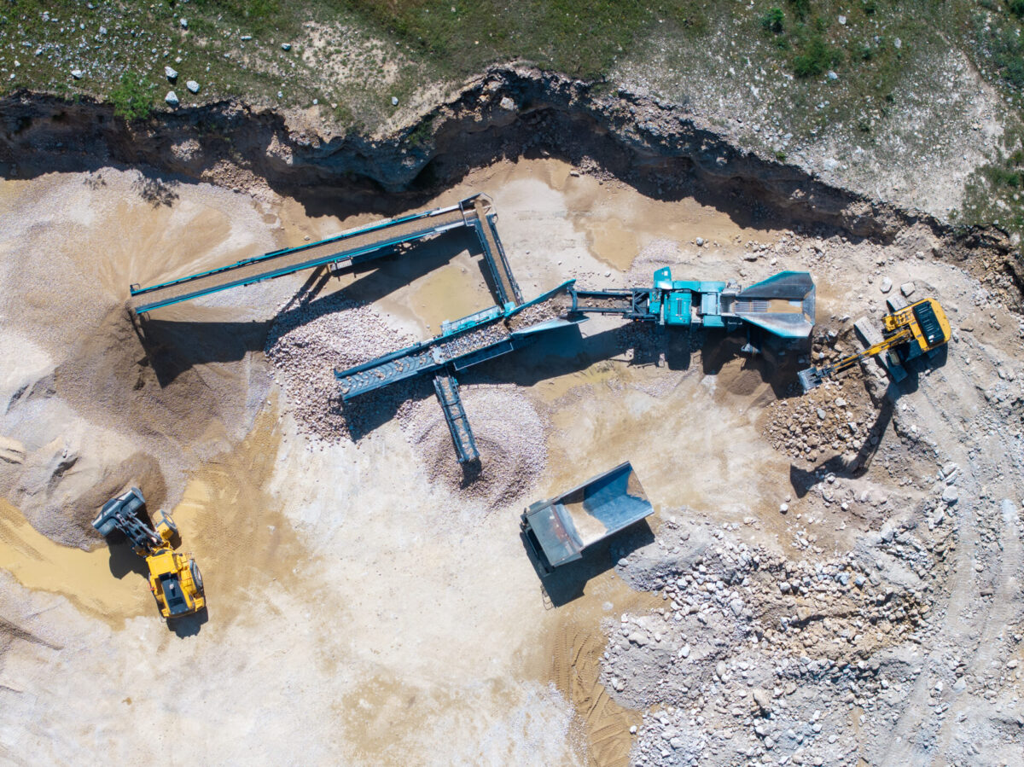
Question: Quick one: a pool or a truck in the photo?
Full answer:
The one in the frame is a truck.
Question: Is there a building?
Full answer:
No, I find no building anywhere in the image.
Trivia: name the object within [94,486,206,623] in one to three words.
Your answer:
work vehicle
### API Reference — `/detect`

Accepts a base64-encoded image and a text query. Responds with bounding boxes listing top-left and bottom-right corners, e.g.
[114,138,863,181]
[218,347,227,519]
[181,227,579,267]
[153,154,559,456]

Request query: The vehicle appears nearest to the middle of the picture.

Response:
[522,461,654,567]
